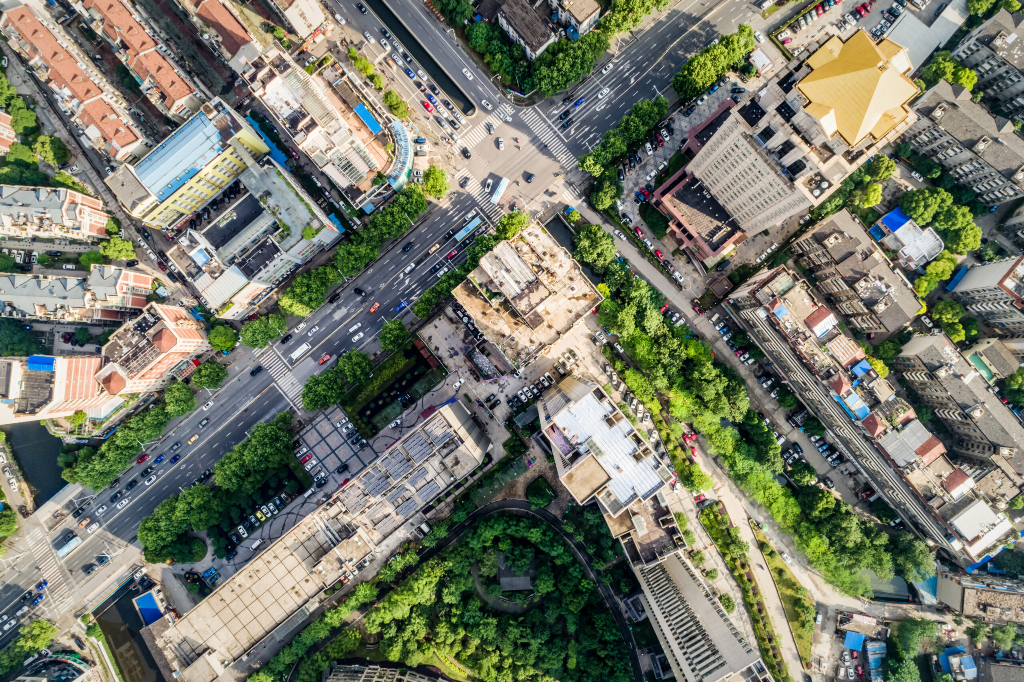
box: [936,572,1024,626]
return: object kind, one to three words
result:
building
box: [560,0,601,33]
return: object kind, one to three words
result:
house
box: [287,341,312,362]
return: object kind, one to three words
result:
bus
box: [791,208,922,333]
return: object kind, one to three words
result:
building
